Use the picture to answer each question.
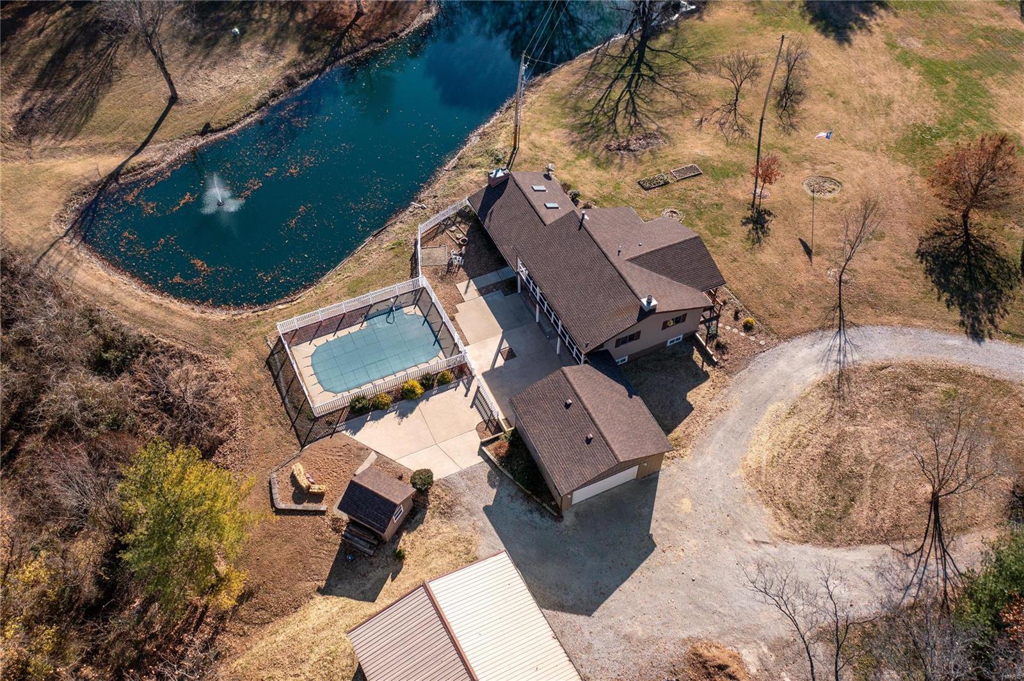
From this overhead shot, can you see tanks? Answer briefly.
No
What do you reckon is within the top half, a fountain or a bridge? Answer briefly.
fountain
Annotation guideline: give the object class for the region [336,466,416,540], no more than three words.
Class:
shed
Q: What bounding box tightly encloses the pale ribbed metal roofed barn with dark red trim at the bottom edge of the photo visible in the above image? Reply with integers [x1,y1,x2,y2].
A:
[346,550,581,681]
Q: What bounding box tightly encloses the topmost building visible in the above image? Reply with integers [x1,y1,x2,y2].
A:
[466,162,732,365]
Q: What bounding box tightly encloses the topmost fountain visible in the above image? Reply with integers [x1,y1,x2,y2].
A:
[183,171,249,224]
